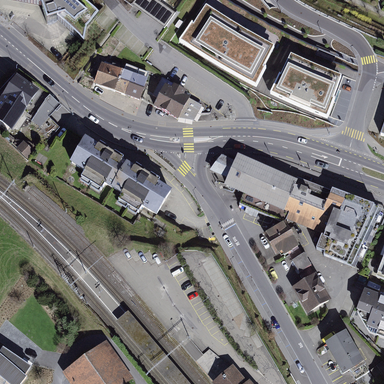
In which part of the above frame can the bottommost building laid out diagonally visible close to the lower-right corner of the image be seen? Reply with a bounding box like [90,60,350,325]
[323,329,370,382]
